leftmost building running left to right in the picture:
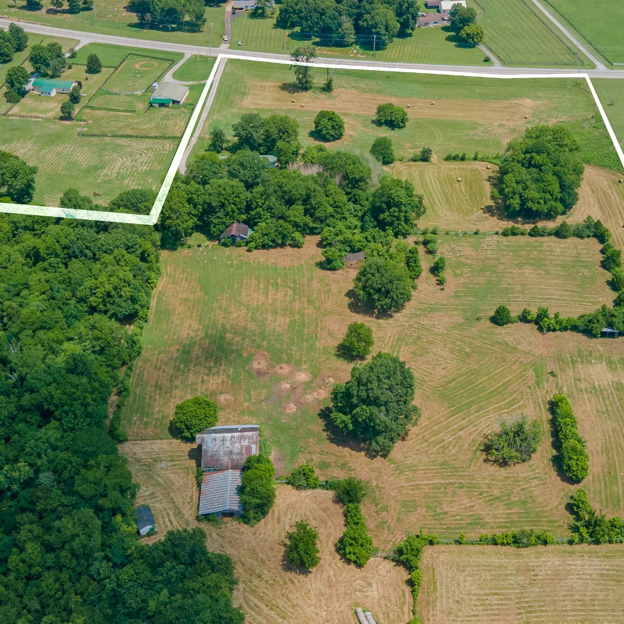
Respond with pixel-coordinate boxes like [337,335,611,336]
[31,77,78,96]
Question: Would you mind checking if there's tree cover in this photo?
Yes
